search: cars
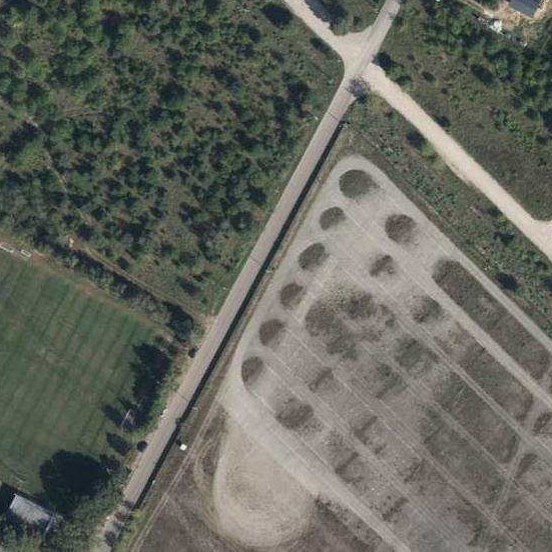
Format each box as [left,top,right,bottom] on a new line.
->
[139,441,147,451]
[188,346,197,357]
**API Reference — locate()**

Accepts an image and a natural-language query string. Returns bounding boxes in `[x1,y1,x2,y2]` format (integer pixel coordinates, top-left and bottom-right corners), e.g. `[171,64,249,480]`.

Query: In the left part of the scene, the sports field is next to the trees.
[0,239,164,508]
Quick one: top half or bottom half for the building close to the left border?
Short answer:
bottom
